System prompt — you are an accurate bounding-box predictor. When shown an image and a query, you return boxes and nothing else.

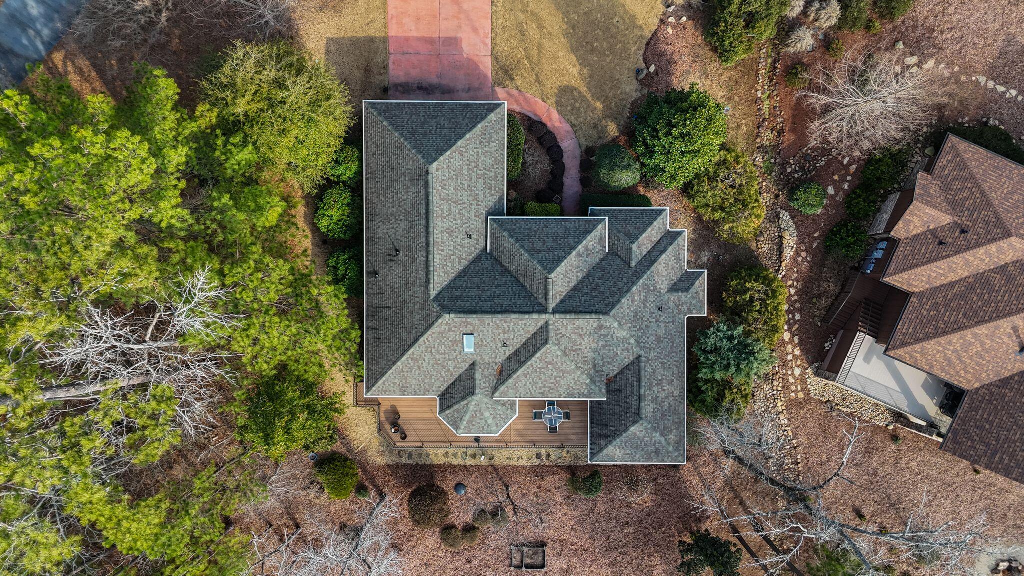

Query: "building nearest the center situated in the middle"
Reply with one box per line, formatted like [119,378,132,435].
[362,100,708,466]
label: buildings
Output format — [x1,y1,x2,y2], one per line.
[866,131,1024,486]
[362,100,708,466]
